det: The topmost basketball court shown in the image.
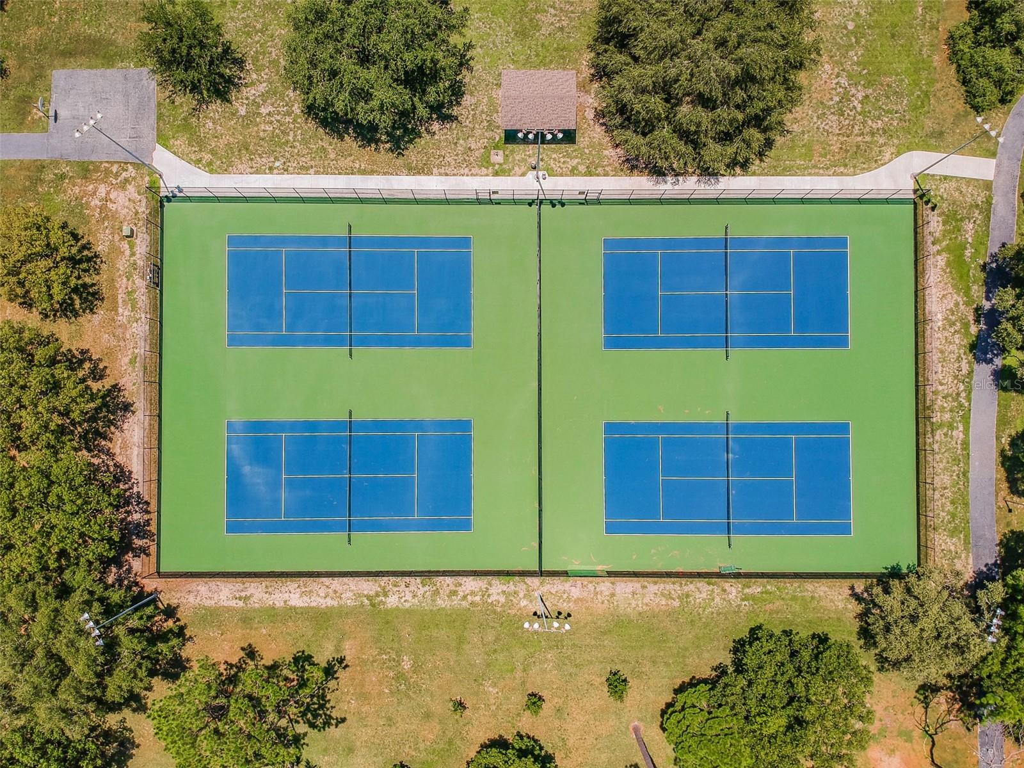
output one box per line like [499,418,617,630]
[48,68,156,163]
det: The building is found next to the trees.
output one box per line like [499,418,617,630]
[502,70,577,141]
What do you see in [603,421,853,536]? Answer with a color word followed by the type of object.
blue tennis court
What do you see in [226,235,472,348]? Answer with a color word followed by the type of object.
blue tennis court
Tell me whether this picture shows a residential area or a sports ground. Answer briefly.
sports ground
